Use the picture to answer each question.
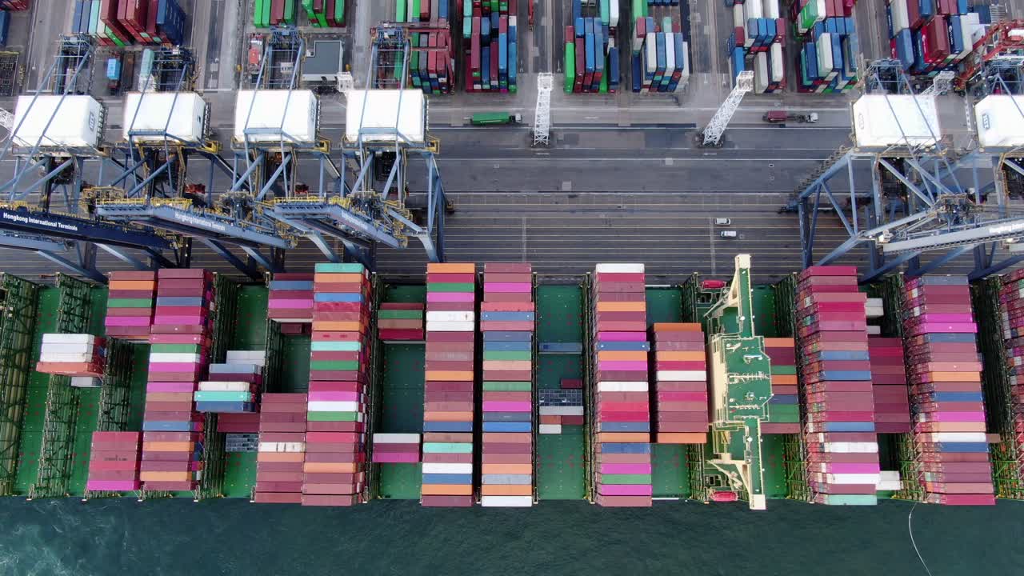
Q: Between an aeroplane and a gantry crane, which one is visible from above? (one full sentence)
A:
The one in the frame is a gantry crane.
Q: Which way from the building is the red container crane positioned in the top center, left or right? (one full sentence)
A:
In the image, the red container crane positioned in the top center sits on the right side of the building.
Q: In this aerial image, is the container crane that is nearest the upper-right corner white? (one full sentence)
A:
No, from above the container crane that is nearest the upper-right corner looks red.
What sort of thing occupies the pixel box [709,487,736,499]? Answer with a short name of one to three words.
boat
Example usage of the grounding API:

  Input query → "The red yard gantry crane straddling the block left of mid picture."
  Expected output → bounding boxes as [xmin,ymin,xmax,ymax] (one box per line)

[394,27,454,89]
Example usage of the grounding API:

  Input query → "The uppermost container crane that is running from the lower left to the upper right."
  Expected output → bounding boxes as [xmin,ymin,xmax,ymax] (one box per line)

[956,17,1024,84]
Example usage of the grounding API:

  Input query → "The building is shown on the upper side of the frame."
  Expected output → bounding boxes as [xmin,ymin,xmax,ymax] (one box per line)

[302,40,344,80]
